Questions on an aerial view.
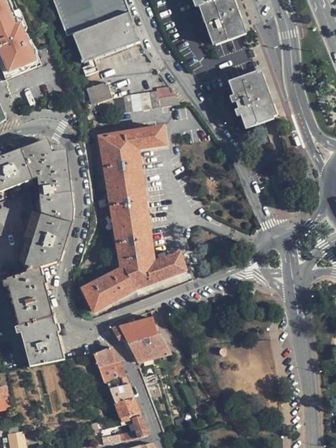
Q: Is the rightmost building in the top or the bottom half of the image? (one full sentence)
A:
The top half of the photo is where the rightmost building is.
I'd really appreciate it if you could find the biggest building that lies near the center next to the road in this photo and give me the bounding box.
[82,124,188,312]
